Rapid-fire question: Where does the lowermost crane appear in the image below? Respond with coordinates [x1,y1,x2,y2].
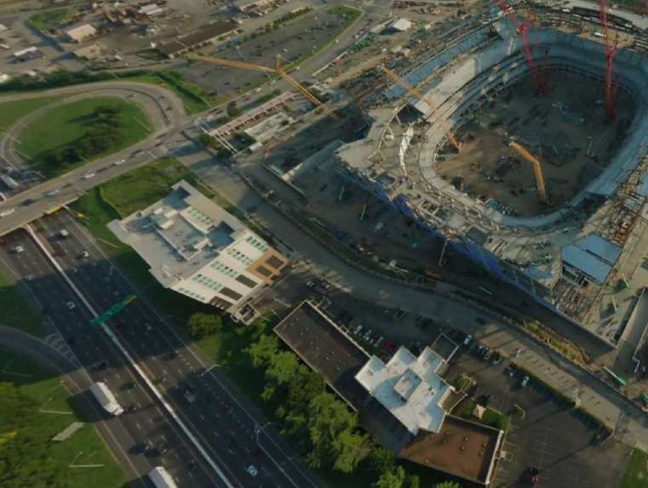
[509,142,550,207]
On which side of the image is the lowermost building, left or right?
right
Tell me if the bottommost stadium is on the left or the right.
right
